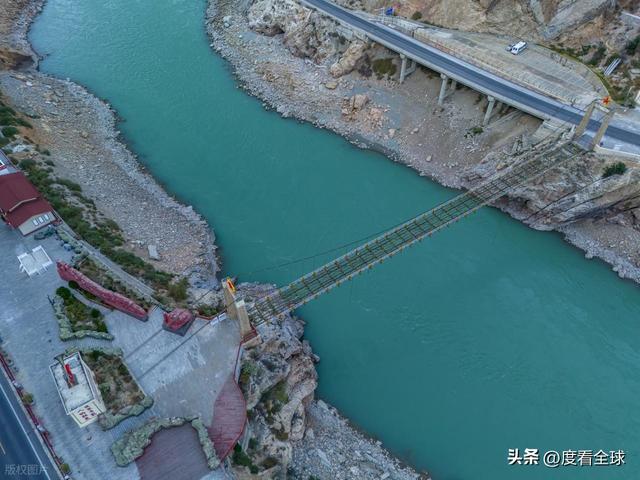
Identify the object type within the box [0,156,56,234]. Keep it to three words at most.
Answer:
house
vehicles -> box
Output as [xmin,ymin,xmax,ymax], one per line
[512,42,525,54]
[504,44,514,51]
